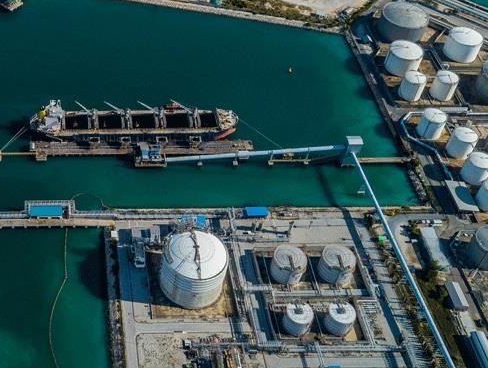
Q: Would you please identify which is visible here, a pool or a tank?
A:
tank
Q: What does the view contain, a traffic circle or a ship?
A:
ship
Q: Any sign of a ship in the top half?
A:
Yes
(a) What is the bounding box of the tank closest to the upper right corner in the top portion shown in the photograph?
[441,24,484,63]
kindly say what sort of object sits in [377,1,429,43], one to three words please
storage tank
